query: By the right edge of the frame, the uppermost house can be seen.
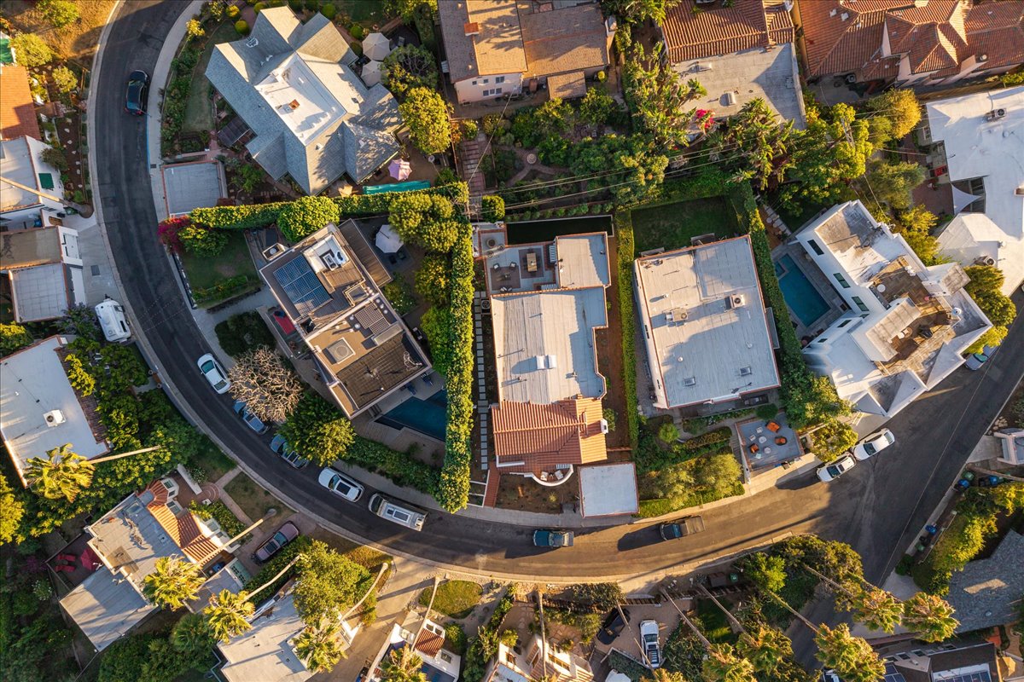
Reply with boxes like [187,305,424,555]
[799,0,1024,95]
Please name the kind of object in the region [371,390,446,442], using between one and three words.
swimming pool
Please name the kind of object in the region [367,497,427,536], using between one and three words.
camper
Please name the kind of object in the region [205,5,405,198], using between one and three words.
house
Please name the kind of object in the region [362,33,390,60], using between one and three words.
umbrella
